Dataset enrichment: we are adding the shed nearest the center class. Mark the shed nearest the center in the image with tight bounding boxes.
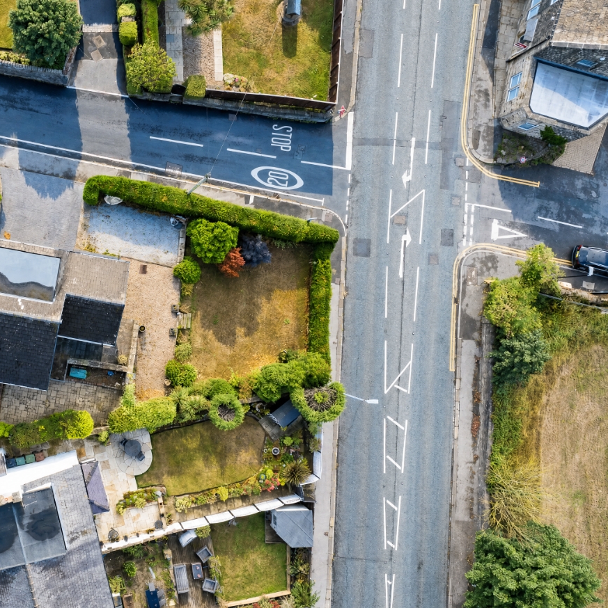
[268,406,300,431]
